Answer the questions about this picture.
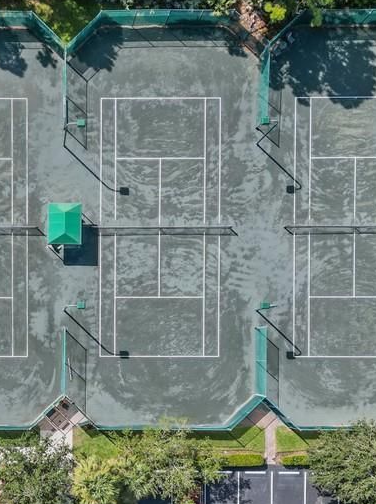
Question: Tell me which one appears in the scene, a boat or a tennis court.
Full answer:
There is a tennis court in the scene.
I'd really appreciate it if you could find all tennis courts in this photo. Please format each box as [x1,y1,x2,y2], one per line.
[256,27,376,426]
[64,27,257,426]
[0,27,65,425]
